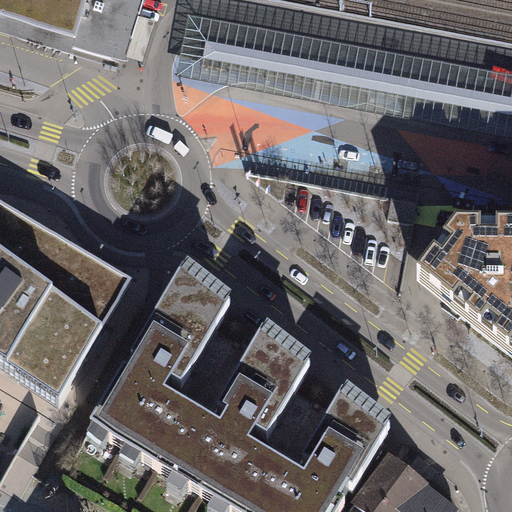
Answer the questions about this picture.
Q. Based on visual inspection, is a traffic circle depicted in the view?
Yes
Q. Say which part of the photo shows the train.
top right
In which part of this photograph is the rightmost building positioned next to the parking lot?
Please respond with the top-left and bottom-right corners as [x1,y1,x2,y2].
[416,210,512,357]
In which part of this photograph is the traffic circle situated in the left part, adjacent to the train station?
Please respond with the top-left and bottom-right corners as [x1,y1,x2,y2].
[76,114,210,248]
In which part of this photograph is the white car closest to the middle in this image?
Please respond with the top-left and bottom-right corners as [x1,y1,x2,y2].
[288,267,311,287]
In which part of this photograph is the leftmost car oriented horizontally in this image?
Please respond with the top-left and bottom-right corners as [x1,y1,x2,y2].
[8,115,34,130]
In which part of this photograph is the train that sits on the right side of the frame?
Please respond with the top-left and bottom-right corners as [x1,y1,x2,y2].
[490,66,512,88]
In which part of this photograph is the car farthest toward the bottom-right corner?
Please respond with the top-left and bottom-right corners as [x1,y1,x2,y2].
[448,431,469,451]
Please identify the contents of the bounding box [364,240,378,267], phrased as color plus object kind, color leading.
white car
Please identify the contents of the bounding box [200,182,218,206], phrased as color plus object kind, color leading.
black car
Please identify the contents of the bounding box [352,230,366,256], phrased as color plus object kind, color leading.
black vehicle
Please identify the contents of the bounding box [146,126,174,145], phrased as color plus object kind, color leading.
white vehicle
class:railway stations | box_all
[167,0,512,136]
